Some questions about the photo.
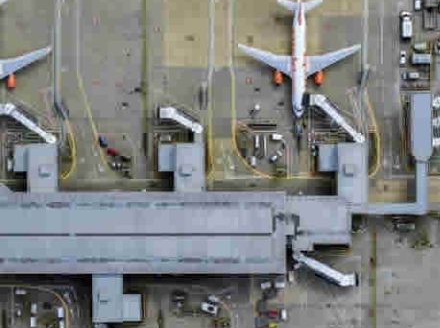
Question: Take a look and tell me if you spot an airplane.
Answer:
Yes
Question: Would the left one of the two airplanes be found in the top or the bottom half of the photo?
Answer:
top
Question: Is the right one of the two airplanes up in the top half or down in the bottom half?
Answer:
top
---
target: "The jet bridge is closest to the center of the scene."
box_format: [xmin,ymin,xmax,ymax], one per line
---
[157,107,205,143]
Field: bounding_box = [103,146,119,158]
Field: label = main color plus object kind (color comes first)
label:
red vehicle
